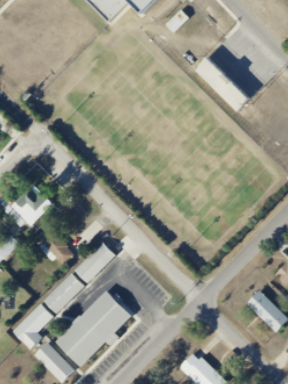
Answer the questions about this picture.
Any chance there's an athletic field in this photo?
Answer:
Yes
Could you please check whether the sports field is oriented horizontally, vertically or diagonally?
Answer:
diagonally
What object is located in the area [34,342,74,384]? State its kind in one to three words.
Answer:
shed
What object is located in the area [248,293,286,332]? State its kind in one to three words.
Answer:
house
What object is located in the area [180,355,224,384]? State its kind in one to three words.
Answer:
house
